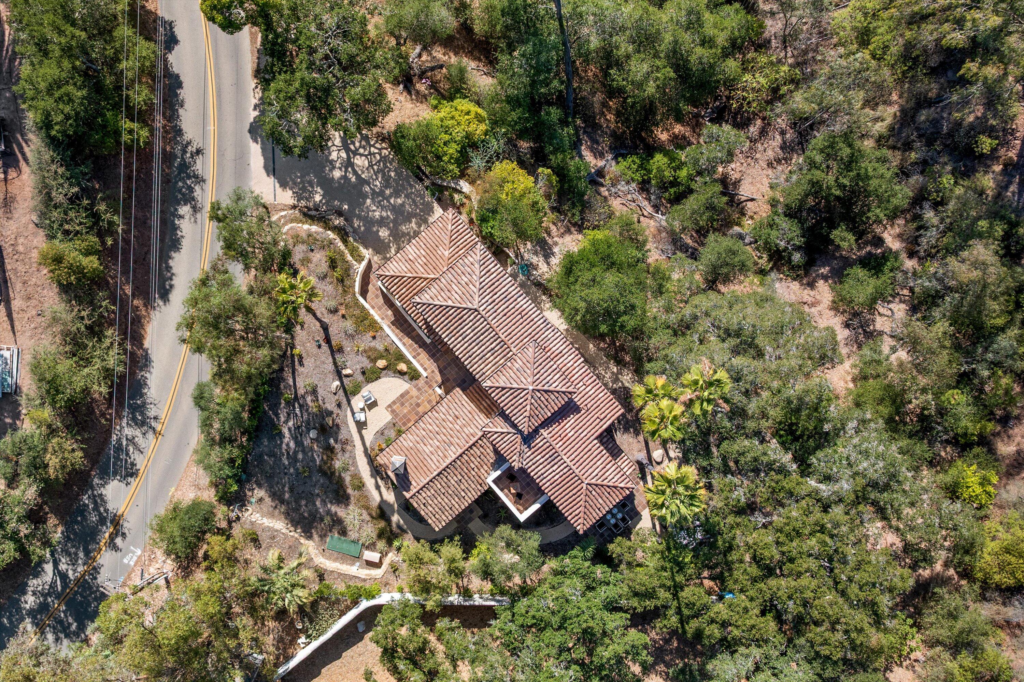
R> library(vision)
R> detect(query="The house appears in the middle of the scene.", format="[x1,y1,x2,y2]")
[374,207,637,535]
